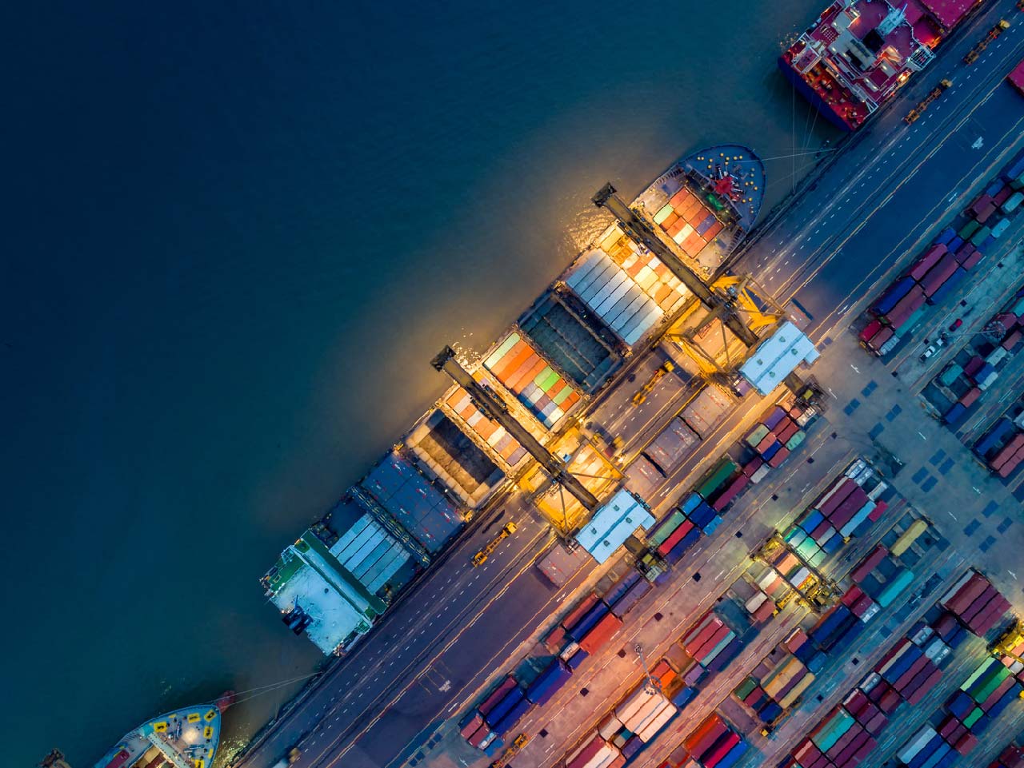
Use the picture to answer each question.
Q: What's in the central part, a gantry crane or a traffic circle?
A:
gantry crane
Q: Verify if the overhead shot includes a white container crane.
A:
No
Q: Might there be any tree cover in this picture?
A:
No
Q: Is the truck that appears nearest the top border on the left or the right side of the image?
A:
right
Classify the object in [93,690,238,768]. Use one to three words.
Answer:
ship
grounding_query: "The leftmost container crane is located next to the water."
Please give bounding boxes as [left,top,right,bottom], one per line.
[428,343,671,582]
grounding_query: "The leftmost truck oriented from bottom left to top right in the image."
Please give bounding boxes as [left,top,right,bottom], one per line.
[281,744,302,766]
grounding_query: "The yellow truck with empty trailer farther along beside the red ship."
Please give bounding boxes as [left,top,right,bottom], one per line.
[966,18,1011,62]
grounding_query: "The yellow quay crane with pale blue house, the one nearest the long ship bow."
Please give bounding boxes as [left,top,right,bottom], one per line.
[590,178,832,418]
